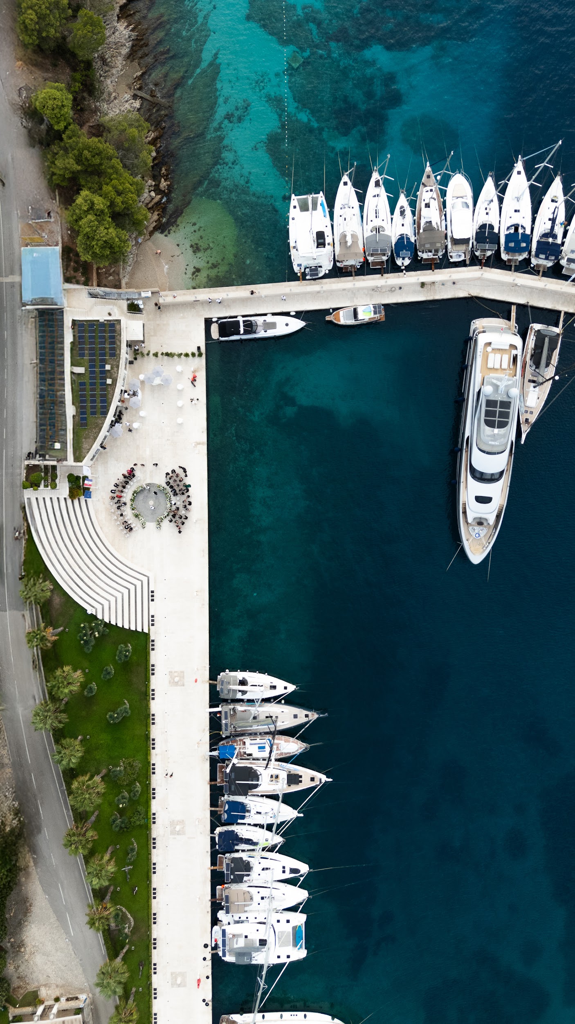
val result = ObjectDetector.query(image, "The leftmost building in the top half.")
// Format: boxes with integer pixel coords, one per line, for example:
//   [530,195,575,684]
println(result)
[21,247,69,311]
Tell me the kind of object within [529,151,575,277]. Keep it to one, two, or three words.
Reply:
boat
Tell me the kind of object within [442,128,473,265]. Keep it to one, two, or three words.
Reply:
boat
